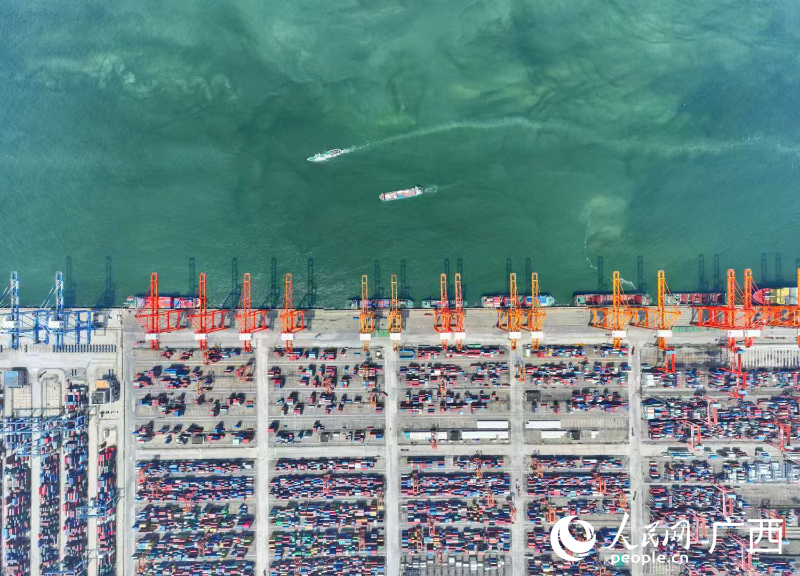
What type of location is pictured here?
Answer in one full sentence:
This looks like a port.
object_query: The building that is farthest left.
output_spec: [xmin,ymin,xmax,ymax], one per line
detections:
[4,370,25,385]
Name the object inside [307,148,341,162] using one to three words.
ship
